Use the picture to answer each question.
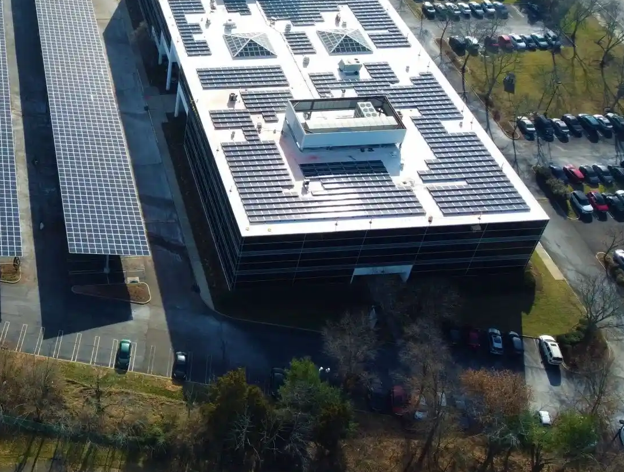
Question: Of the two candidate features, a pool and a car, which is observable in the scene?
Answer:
car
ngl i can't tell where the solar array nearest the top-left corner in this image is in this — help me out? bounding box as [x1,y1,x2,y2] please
[168,0,210,57]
